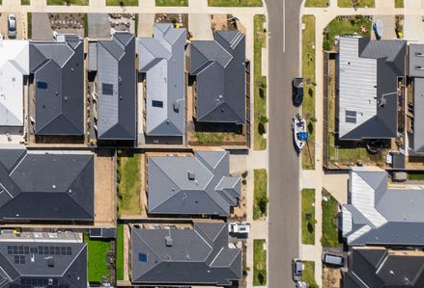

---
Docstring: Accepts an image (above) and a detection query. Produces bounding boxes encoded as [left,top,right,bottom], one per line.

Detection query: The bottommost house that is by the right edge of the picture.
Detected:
[339,246,424,288]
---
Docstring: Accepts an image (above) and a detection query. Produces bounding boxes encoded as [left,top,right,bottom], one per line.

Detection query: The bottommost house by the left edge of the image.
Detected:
[0,238,88,288]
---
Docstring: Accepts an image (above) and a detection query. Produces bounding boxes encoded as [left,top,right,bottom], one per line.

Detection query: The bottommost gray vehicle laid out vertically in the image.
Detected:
[292,257,304,284]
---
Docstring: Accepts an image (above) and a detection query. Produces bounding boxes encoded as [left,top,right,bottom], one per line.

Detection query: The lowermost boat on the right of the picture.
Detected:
[295,116,307,155]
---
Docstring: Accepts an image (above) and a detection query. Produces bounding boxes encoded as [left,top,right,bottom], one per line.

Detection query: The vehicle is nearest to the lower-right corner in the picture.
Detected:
[322,254,345,268]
